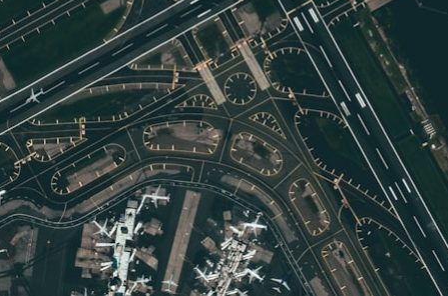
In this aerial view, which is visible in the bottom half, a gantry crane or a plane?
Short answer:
plane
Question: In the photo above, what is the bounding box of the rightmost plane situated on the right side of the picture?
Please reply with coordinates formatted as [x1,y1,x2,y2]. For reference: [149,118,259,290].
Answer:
[274,272,293,293]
